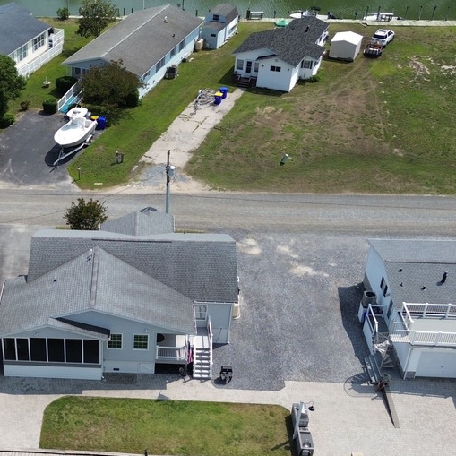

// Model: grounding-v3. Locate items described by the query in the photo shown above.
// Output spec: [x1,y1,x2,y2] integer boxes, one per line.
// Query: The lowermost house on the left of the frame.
[0,205,239,380]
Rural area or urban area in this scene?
urban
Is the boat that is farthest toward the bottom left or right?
left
